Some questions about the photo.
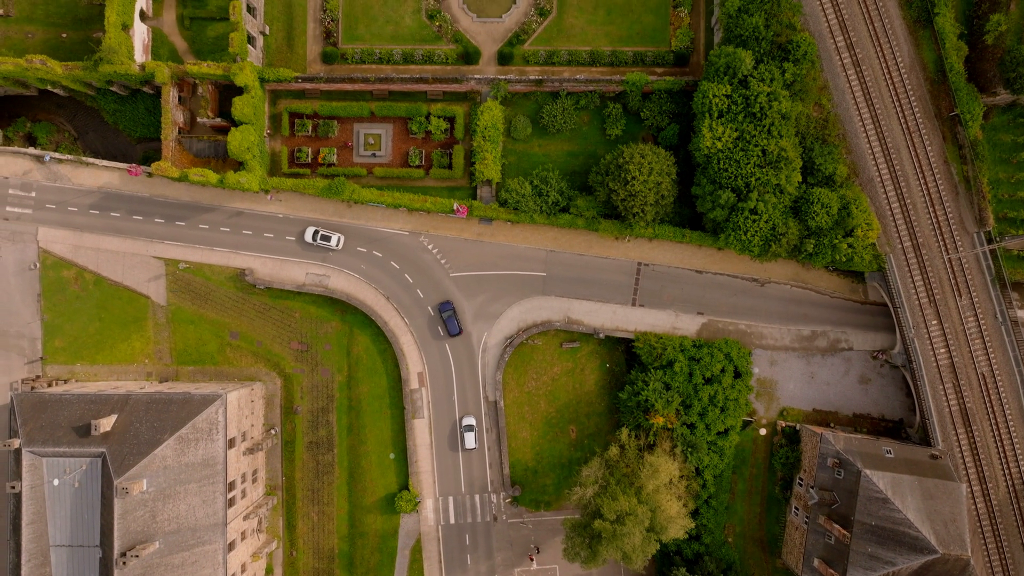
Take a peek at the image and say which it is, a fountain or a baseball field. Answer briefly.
fountain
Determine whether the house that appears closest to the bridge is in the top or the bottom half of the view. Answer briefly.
bottom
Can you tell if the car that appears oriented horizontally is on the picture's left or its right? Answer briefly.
left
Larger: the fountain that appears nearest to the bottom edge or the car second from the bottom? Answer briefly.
the fountain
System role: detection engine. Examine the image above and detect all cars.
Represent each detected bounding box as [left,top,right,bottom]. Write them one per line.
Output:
[459,413,478,451]
[439,299,463,338]
[305,227,346,250]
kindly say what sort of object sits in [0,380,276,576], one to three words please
building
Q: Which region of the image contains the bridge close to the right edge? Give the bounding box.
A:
[866,220,1024,461]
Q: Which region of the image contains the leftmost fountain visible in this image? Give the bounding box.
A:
[354,123,393,163]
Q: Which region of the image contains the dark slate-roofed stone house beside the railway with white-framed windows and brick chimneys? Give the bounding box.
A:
[781,425,976,576]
